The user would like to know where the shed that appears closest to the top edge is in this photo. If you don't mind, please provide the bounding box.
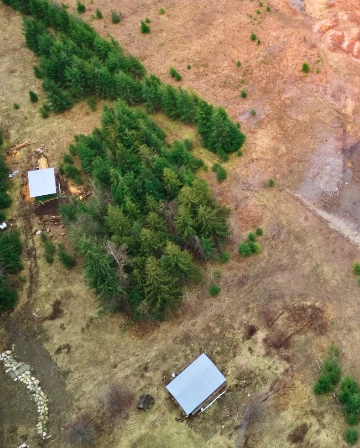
[30,165,65,206]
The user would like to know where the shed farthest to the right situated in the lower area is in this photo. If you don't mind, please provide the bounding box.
[164,354,226,420]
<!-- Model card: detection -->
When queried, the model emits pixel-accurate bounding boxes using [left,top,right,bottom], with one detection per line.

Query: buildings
[30,165,65,206]
[164,354,226,420]
[138,395,155,412]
